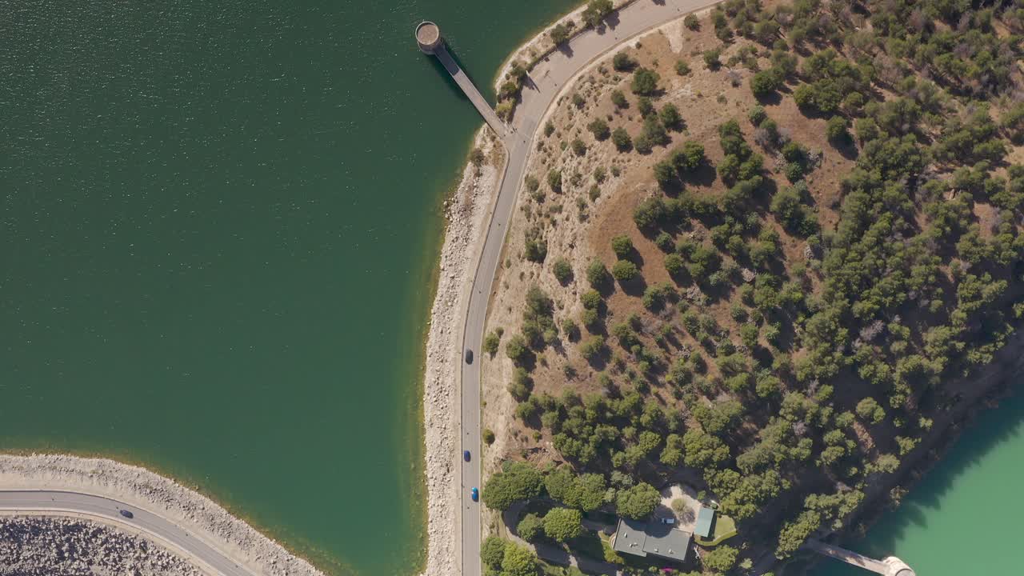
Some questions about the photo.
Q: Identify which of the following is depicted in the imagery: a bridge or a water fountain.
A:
bridge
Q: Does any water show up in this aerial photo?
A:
Yes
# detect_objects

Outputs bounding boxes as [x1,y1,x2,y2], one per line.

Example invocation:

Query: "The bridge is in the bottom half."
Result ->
[799,539,889,572]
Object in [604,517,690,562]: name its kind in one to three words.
house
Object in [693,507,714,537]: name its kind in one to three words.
shed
